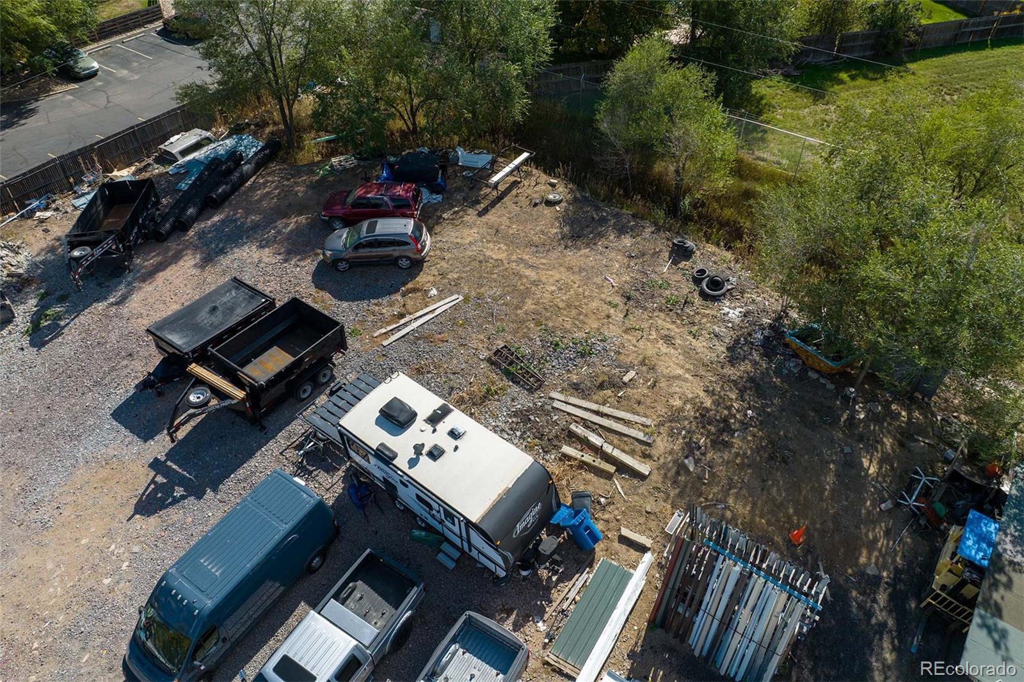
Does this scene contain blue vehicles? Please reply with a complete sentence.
Yes, a blue vehicle appears in the view.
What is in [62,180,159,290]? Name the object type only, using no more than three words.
trailer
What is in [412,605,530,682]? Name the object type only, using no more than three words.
truck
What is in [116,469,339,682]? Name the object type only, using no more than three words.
van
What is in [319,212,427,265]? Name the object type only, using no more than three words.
car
